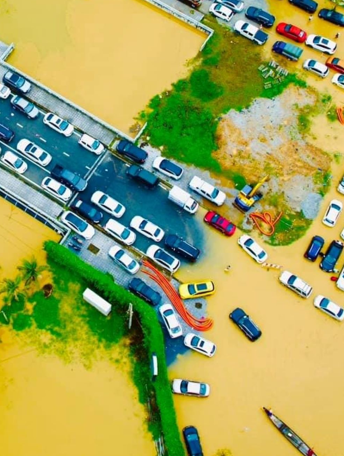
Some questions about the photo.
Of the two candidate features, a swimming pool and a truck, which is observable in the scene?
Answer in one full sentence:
There is a truck in the scene.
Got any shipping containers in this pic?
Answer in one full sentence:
Yes, the image includes a shipping container.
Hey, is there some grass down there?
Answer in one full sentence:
Yes, the picture does contain grass.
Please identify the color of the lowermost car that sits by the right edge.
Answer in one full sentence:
The lowermost car that sits by the right edge is white.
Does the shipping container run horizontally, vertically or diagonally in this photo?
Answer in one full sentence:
The shipping container has been laid out diagonally relative to the frame.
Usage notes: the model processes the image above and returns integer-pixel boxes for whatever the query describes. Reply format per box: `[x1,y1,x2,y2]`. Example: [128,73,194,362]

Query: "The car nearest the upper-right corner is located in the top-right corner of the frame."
[318,10,344,29]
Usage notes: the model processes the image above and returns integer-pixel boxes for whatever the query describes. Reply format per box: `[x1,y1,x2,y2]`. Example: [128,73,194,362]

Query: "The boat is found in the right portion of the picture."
[263,407,317,456]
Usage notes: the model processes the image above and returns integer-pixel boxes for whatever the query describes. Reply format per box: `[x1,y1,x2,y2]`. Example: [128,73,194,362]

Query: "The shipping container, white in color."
[84,288,111,317]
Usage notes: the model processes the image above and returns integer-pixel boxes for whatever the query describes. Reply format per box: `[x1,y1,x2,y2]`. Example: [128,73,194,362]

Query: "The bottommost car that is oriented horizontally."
[173,378,210,399]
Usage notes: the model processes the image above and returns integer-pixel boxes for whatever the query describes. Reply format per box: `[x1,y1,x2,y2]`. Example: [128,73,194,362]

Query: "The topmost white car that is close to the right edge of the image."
[305,36,338,56]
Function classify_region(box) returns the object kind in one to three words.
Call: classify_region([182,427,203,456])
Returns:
car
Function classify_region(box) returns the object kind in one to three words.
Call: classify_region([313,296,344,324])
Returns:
car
